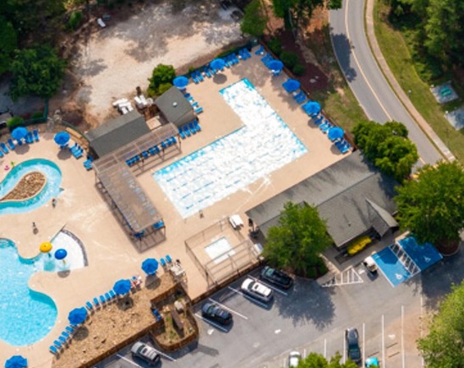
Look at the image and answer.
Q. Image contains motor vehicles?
Yes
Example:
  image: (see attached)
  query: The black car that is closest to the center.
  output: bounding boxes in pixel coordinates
[262,268,294,291]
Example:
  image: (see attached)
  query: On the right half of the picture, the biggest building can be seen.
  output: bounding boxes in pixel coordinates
[246,154,404,251]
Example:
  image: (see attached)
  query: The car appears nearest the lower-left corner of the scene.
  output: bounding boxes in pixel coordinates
[130,343,162,367]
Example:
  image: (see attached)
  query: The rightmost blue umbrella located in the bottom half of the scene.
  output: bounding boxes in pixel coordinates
[140,259,161,278]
